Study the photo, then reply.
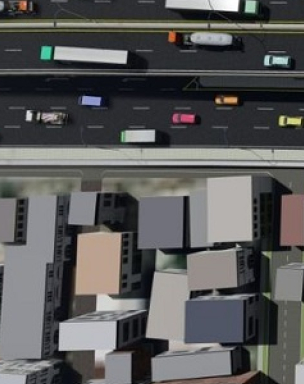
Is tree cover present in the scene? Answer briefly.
No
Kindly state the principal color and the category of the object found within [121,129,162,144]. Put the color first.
white vehicle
